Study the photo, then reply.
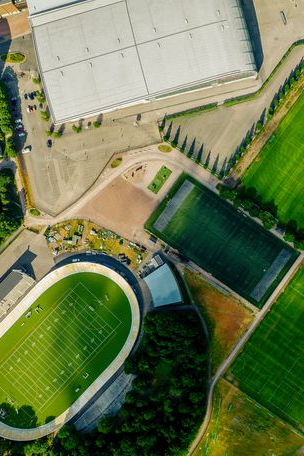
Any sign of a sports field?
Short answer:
Yes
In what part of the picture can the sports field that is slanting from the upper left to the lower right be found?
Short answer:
right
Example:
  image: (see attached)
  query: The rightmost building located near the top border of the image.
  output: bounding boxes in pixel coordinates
[27,0,258,129]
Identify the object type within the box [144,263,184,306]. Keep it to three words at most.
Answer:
building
